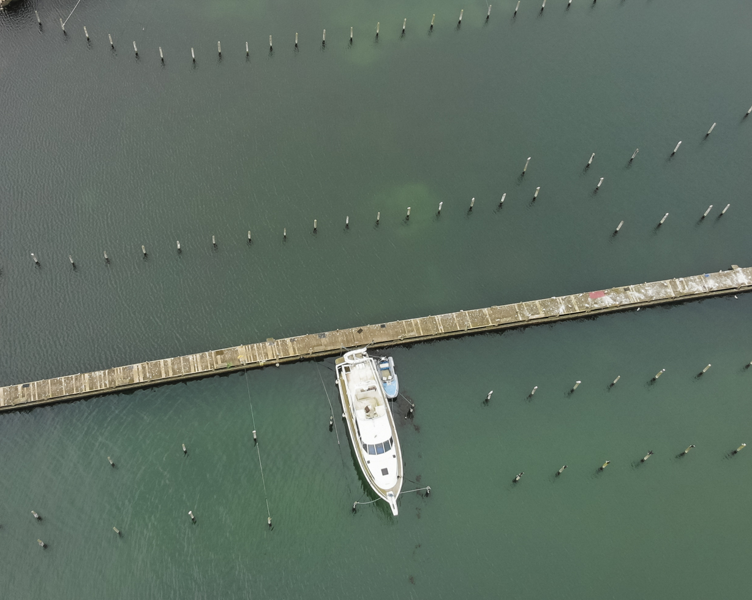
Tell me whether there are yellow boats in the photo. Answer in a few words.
No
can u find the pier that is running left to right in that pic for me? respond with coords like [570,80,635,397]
[0,266,752,415]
